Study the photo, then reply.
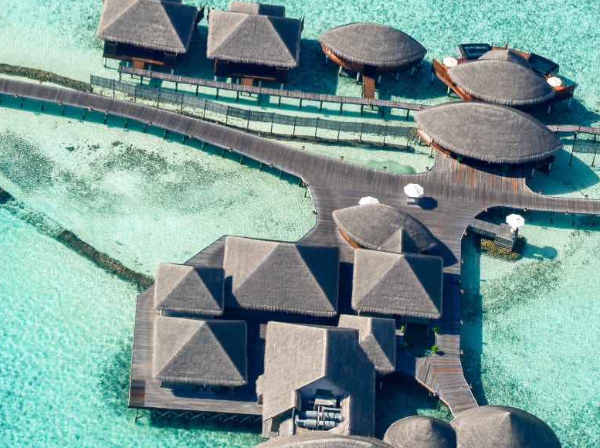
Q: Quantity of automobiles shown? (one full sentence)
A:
The photo contains no automobiles.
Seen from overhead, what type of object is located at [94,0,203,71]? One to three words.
house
